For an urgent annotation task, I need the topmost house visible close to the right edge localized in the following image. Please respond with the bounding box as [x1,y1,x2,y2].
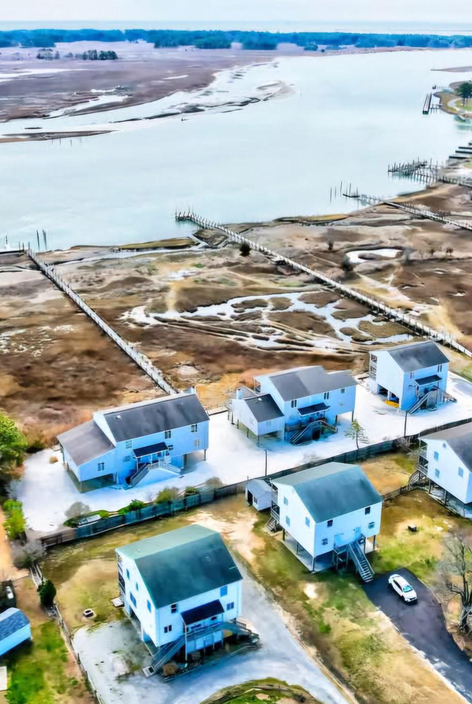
[368,340,453,412]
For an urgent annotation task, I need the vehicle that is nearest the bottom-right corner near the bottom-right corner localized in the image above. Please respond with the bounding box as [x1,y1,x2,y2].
[385,568,420,600]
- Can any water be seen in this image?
Yes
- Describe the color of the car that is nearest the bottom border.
white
